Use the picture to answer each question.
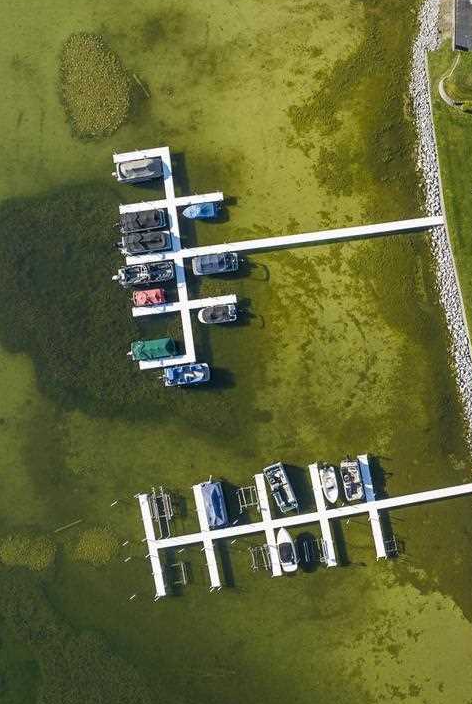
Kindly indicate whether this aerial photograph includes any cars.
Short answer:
No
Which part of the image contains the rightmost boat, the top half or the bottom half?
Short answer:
bottom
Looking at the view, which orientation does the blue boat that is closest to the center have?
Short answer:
horizontally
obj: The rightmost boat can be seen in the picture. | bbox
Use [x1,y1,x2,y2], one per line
[340,458,365,502]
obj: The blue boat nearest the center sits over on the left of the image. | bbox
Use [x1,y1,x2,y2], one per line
[164,363,210,386]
